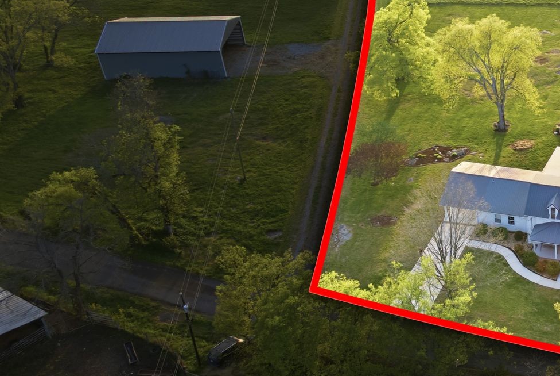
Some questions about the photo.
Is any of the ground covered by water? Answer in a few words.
No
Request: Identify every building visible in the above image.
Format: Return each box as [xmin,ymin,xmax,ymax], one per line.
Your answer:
[94,17,250,80]
[0,281,55,354]
[441,148,560,263]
